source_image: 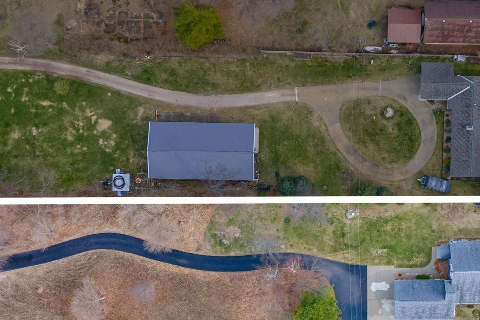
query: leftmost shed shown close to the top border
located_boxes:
[387,9,421,46]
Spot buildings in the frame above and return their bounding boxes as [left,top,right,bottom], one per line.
[146,121,256,182]
[387,9,421,46]
[394,240,480,320]
[419,62,480,176]
[423,2,480,47]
